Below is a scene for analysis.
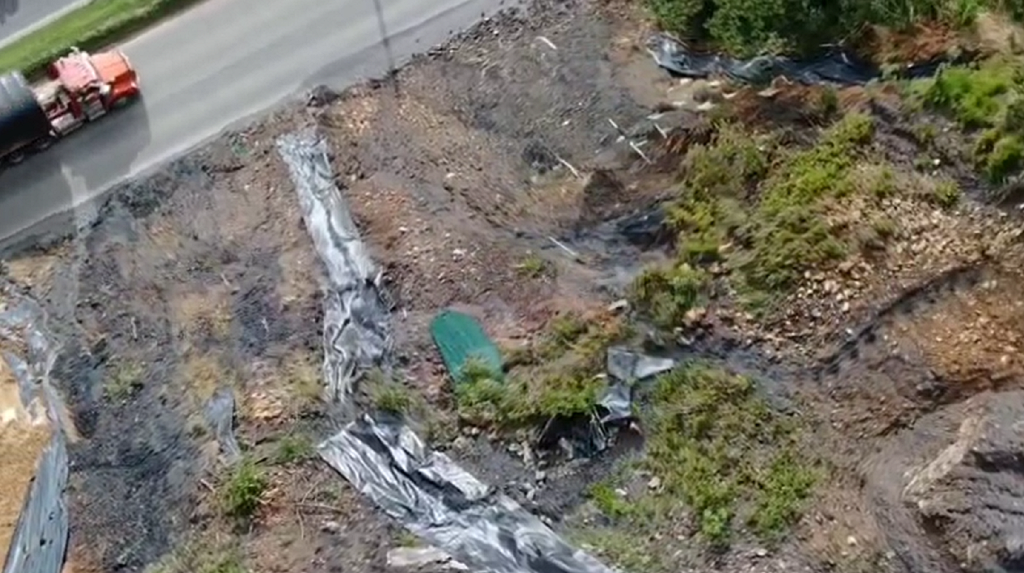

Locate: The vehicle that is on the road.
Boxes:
[0,46,139,158]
